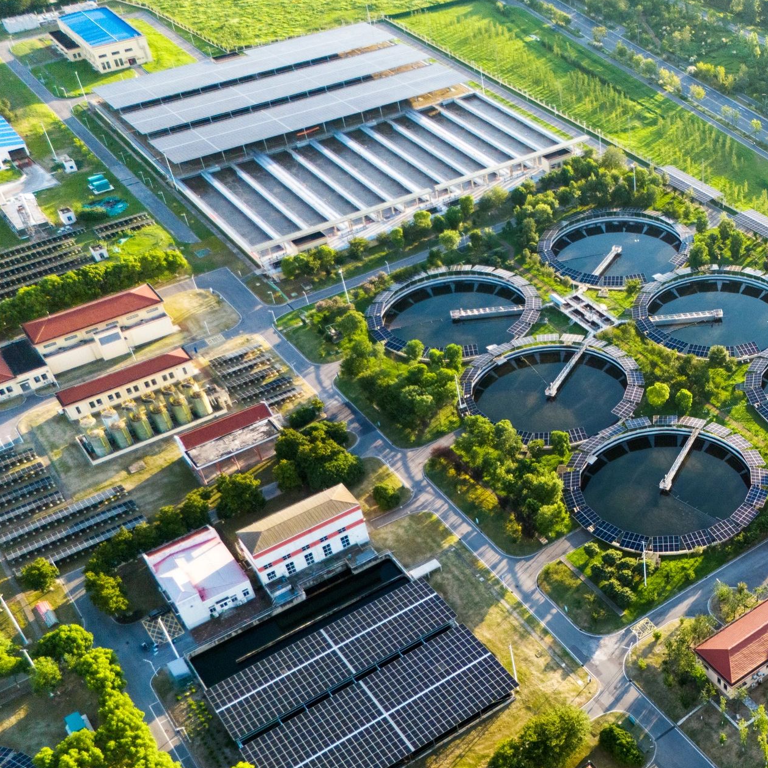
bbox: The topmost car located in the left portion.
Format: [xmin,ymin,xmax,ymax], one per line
[141,600,173,622]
